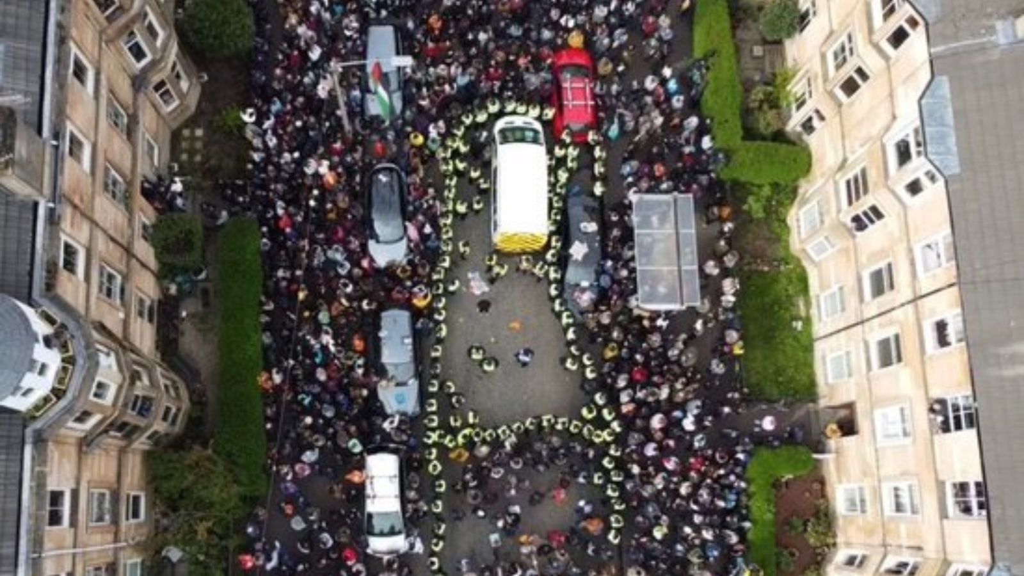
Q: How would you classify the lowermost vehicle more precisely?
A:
automobile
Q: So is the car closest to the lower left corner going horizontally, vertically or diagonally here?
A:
vertically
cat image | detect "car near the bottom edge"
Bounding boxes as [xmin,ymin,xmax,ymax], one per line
[358,447,413,559]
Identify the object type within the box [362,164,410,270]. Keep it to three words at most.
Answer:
car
